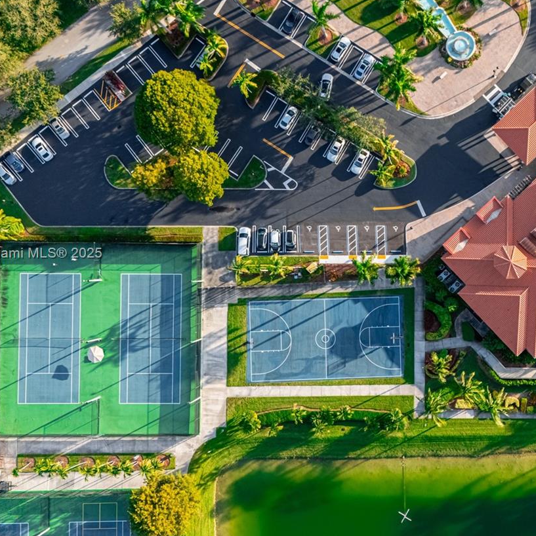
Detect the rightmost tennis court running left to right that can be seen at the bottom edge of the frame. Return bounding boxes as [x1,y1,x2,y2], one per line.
[50,495,147,536]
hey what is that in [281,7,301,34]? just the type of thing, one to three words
car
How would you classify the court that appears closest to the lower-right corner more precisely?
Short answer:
basketball court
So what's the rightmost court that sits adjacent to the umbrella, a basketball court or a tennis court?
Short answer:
tennis court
